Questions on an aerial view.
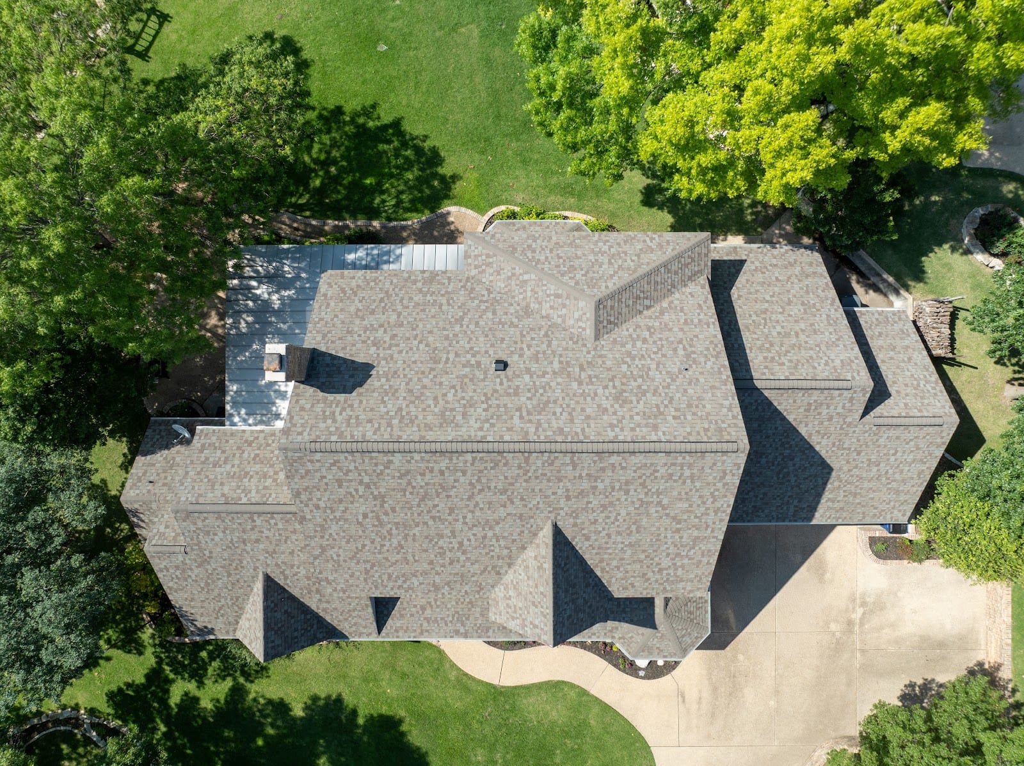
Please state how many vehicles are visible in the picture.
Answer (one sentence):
I count no vehicles.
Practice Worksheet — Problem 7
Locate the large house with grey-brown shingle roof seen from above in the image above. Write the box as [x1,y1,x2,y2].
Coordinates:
[121,219,958,663]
